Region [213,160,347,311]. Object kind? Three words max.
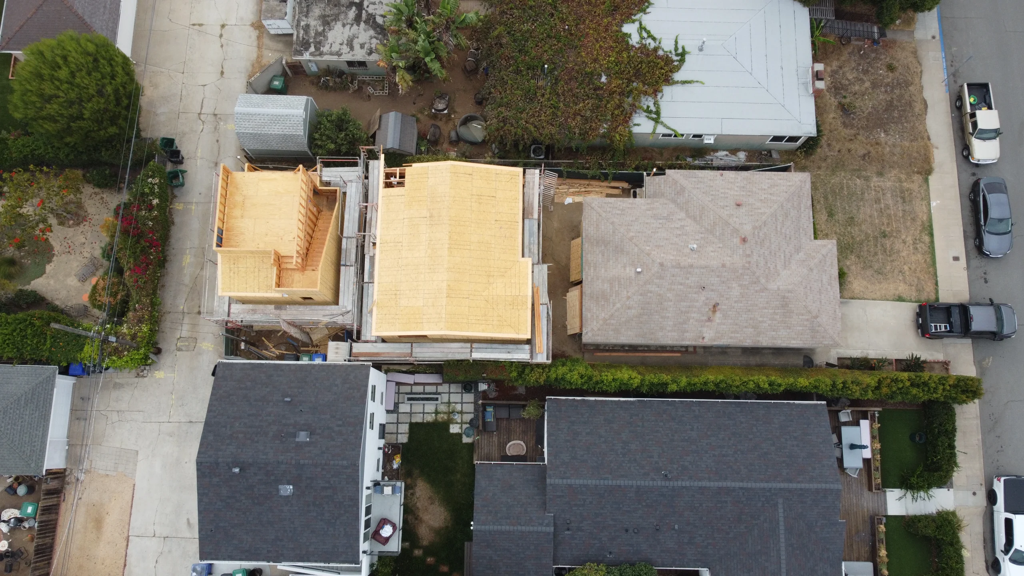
building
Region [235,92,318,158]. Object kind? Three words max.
shed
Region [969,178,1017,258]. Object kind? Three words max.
car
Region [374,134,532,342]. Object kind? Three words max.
house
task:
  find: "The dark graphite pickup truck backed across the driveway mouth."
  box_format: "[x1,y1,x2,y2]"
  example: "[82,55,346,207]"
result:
[911,298,1019,346]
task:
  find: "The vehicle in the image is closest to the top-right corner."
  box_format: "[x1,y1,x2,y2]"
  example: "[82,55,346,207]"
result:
[955,85,1004,165]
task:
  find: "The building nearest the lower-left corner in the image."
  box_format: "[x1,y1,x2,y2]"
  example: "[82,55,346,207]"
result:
[0,363,76,477]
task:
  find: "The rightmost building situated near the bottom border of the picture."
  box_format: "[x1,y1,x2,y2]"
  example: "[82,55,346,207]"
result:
[540,396,846,576]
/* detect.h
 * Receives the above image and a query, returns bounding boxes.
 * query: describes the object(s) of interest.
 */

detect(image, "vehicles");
[955,85,1004,165]
[988,471,1024,576]
[969,178,1017,258]
[911,298,1019,346]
